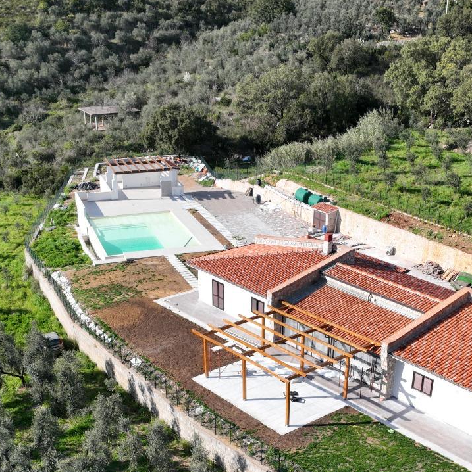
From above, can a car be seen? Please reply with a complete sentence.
Yes, you can see a car in this photo.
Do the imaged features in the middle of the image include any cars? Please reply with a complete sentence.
No, looking in the middle of the image, there is no car.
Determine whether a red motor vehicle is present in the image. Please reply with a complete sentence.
No, the frame has no red motor vehicle in it.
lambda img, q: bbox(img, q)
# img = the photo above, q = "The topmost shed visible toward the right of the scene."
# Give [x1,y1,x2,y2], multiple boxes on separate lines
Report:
[313,199,343,232]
